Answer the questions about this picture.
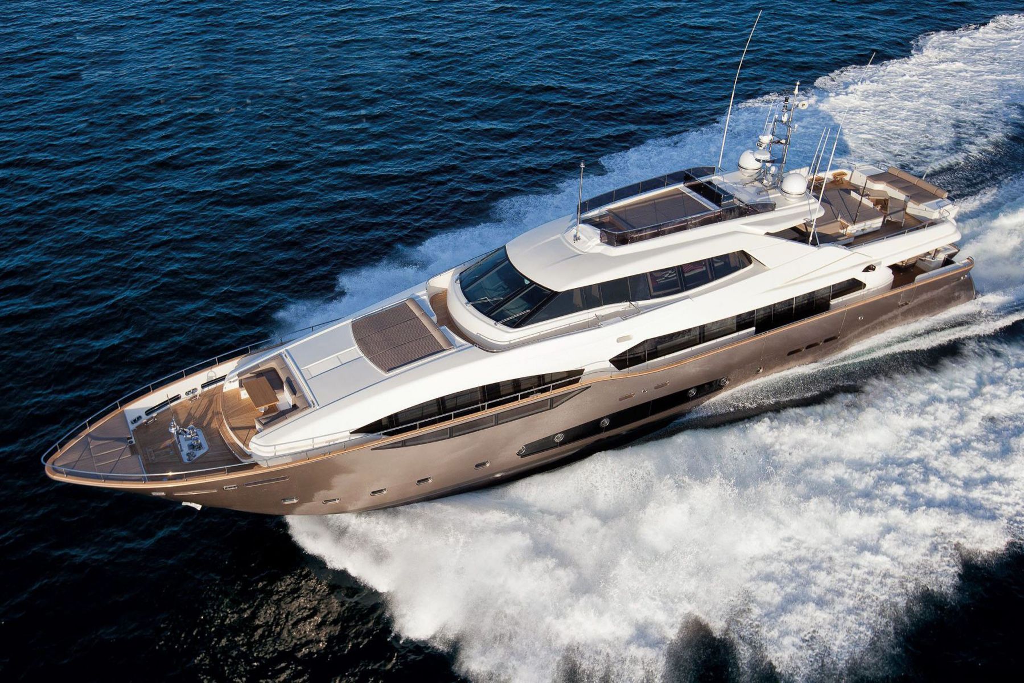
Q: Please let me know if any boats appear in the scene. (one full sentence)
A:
Yes, looking at the shot, I can spot a boat.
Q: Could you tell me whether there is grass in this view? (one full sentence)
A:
No, no grass is visible.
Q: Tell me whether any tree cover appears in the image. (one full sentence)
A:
No, tree cover can't be seen anywhere here.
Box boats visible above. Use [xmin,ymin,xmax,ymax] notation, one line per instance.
[43,11,975,516]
